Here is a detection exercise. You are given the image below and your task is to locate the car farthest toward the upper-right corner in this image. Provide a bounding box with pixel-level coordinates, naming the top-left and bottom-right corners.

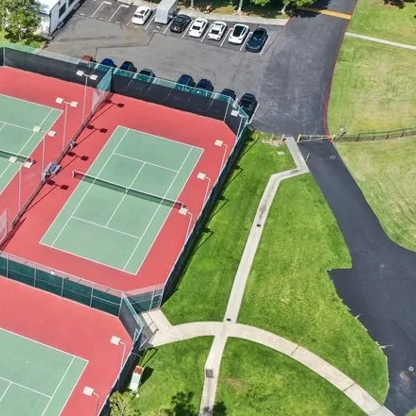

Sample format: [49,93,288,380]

[248,28,269,49]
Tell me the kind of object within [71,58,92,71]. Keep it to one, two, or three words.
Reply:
vehicle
